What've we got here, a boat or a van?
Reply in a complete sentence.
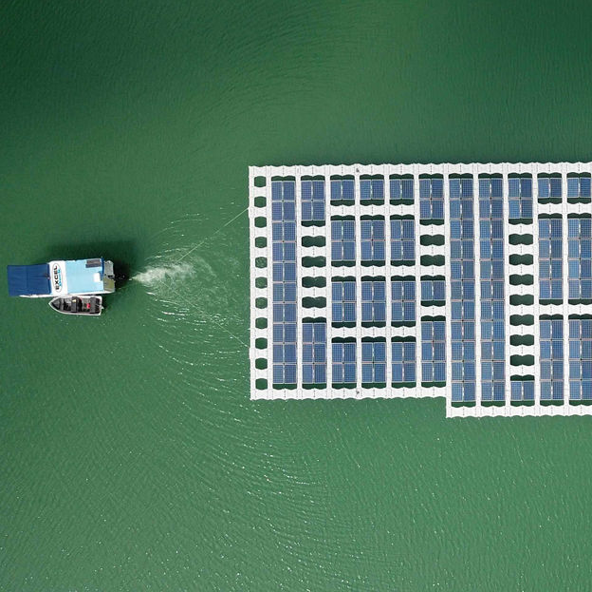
The image shows a boat.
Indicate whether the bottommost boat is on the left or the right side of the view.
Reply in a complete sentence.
The bottommost boat appears in the left half of the scene.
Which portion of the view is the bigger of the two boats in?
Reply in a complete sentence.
The bigger of the two boats is located in the left region of the scene.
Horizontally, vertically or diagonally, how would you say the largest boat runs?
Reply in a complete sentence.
From this overhead view, the largest boat appears to run horizontally.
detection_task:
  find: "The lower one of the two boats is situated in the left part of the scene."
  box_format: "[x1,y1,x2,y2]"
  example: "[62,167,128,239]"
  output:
[47,295,107,316]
